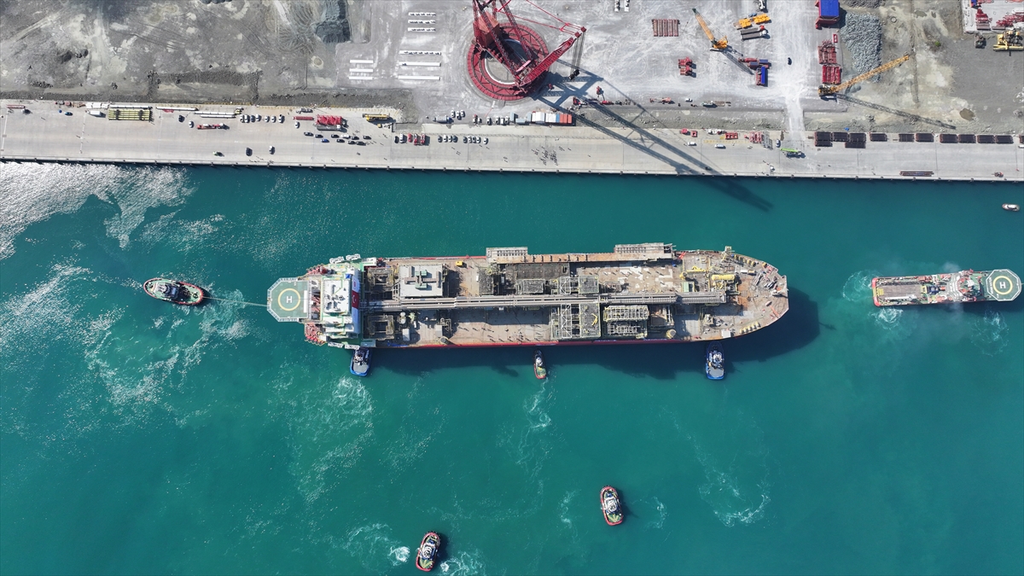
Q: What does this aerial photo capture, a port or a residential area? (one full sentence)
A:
This image shows a port.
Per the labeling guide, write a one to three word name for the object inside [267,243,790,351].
ship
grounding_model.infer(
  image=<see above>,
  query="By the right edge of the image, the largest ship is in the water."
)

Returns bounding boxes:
[867,268,1022,308]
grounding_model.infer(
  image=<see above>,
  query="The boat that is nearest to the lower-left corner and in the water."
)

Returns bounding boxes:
[140,277,205,309]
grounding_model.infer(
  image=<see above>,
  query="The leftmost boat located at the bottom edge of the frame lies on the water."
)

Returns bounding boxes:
[412,532,441,575]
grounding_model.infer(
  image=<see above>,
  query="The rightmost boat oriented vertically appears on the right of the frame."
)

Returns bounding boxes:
[706,340,726,381]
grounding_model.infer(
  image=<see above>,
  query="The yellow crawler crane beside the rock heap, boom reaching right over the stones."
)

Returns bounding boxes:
[824,54,915,95]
